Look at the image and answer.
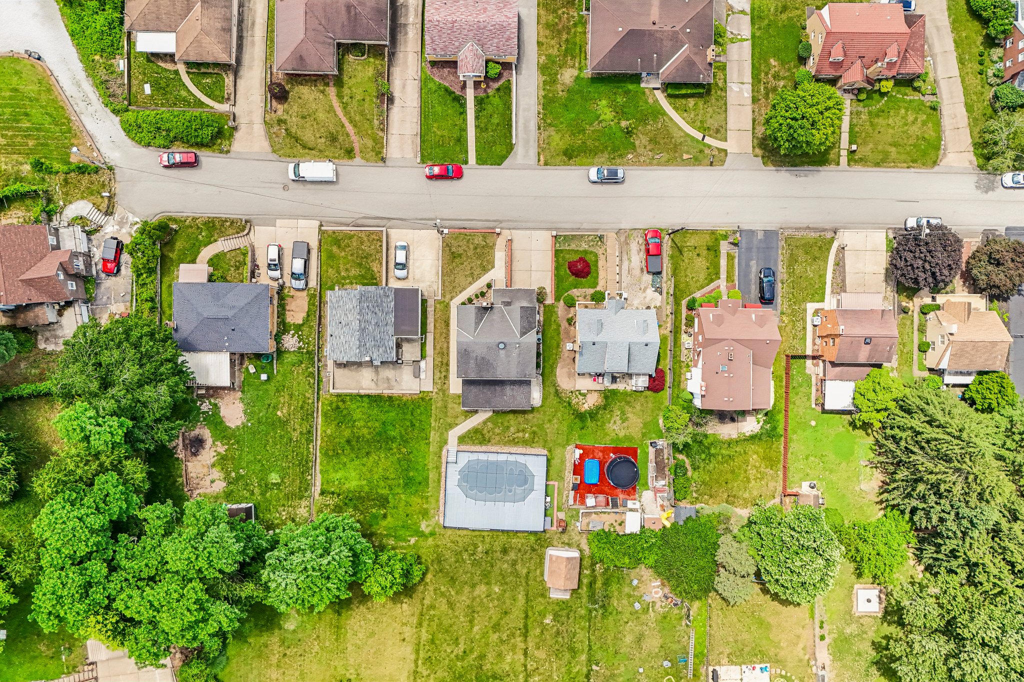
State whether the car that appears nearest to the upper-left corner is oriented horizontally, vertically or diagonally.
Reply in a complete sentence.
The car that appears nearest to the upper-left corner is oriented horizontally.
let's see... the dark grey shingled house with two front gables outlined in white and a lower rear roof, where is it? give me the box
[455,279,539,409]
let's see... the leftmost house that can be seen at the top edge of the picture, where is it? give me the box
[125,0,240,69]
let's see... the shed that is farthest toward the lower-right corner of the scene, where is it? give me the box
[794,492,818,510]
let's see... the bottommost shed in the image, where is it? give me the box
[547,550,579,599]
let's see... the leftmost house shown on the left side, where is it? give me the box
[0,221,91,325]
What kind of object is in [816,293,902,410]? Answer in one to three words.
house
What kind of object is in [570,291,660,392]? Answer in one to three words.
house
